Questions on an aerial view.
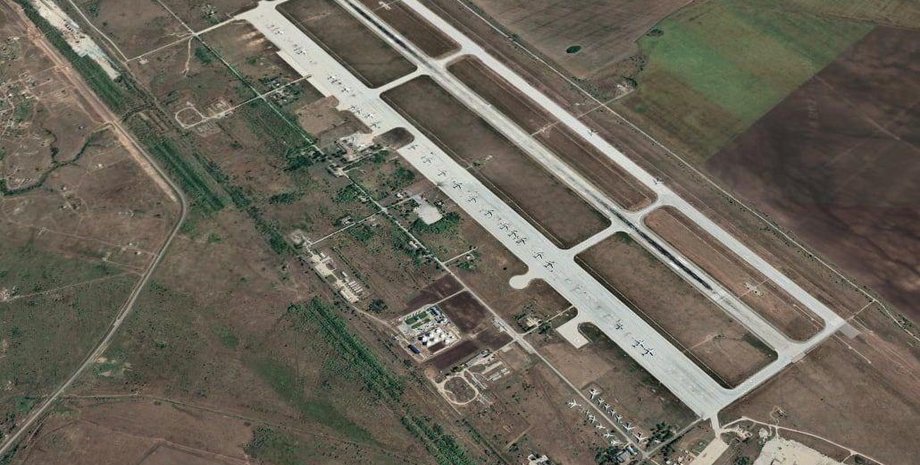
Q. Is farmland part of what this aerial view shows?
Yes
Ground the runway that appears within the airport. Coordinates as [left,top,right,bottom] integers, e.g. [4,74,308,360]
[336,0,788,349]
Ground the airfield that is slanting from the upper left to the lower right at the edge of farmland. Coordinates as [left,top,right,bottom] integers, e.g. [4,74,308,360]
[236,0,861,426]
